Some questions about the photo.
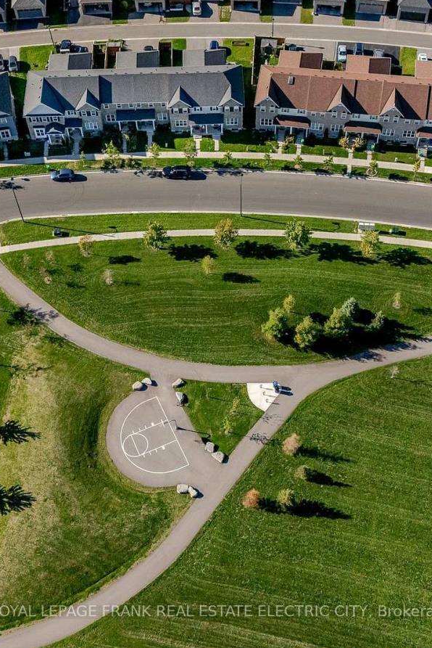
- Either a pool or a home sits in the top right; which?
home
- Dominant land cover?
grass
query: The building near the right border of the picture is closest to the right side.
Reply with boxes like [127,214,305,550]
[397,0,432,19]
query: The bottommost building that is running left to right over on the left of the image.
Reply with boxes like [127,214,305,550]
[22,48,245,156]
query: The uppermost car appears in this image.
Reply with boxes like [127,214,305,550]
[190,0,203,18]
